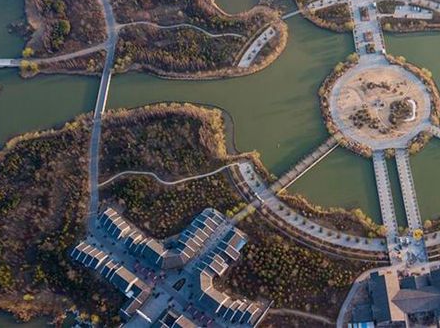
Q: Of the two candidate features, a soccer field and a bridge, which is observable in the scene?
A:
bridge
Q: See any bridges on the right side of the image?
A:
Yes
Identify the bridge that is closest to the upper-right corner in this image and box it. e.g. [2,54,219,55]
[352,18,387,65]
